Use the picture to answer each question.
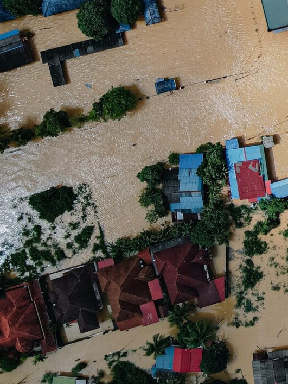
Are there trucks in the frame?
No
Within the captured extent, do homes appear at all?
Yes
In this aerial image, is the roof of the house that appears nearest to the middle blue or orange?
blue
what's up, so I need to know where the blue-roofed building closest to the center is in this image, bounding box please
[163,153,206,222]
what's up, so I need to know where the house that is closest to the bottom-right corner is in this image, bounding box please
[252,346,288,384]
